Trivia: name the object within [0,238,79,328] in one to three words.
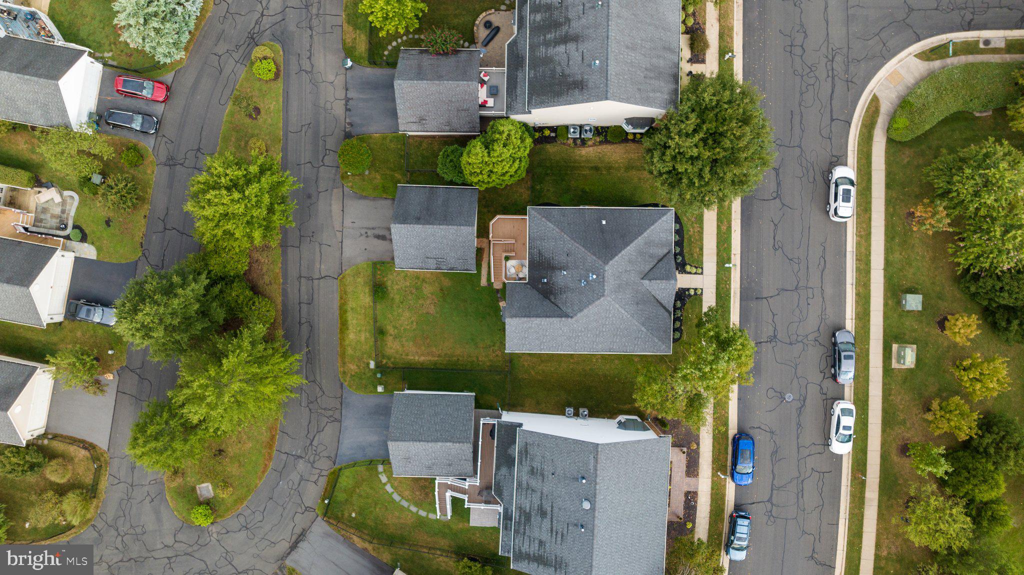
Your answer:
building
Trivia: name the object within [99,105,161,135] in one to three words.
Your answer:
car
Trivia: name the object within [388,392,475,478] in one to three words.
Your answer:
building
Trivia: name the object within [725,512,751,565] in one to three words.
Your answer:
car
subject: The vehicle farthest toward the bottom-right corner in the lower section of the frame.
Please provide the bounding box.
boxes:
[829,400,857,455]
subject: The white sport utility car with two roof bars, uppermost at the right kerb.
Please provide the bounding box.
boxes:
[827,165,858,221]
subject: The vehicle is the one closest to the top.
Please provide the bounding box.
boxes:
[111,74,172,104]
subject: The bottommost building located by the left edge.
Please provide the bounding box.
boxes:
[0,356,59,447]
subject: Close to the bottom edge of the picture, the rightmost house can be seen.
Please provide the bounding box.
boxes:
[492,395,672,575]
